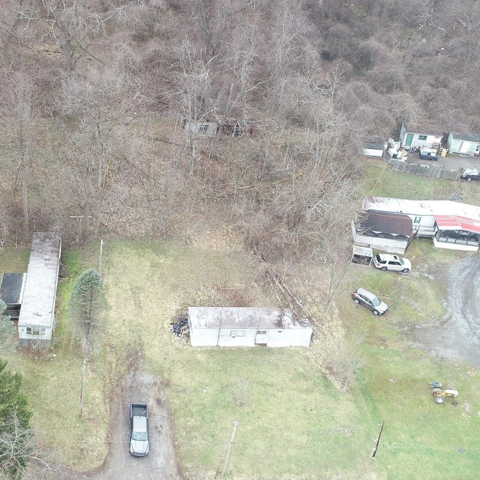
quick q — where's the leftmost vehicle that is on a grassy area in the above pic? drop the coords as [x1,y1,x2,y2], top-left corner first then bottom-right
[350,290,390,319]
